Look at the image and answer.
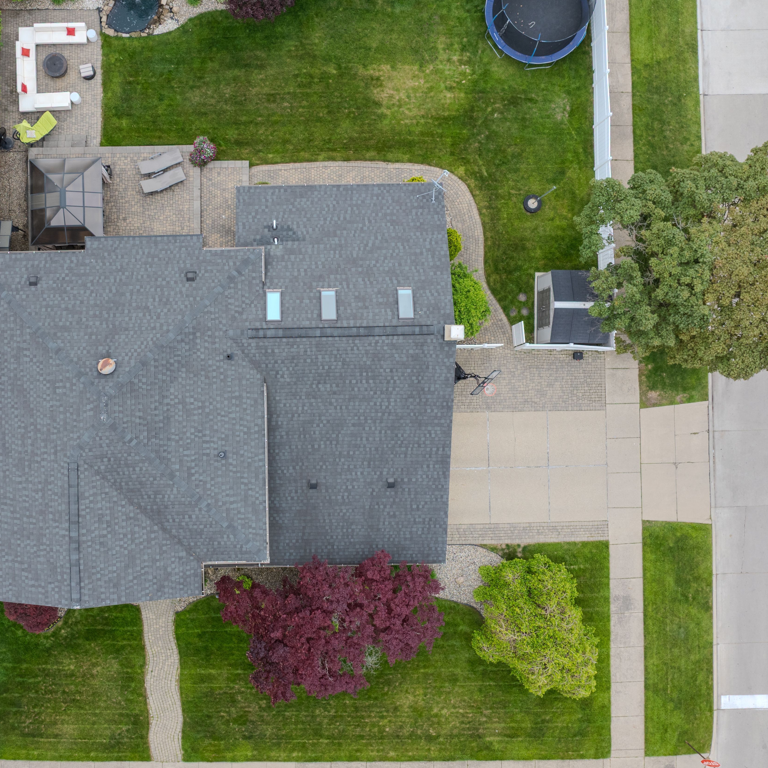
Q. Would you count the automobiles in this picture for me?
zero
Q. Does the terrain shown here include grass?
Yes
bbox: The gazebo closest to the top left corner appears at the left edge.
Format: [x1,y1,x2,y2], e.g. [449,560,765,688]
[26,156,110,248]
